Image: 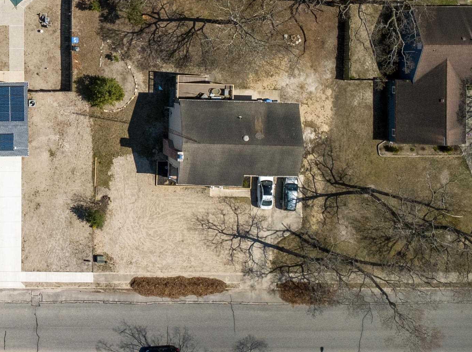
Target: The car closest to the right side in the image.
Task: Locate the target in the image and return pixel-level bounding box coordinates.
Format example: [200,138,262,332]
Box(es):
[282,175,302,210]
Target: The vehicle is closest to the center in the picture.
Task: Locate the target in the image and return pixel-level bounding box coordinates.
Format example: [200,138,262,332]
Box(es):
[257,177,278,210]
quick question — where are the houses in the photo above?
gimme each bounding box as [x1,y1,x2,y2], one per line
[0,81,29,157]
[162,101,303,186]
[386,5,472,144]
